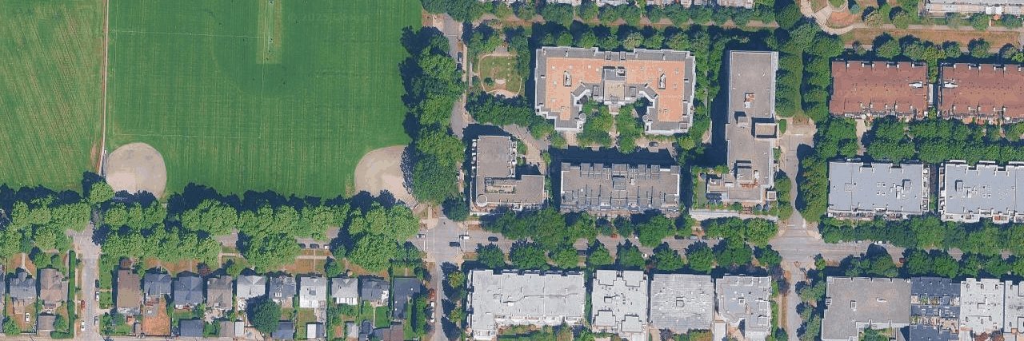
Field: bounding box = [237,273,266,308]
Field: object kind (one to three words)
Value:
house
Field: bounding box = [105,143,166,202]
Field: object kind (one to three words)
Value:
baseball field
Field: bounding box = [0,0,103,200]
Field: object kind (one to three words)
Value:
sports field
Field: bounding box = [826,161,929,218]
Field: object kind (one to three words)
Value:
building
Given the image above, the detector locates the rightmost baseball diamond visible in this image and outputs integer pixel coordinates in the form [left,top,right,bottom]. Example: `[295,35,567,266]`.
[353,144,422,209]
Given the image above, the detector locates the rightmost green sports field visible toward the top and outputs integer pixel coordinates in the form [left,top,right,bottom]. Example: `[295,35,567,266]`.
[105,0,422,208]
